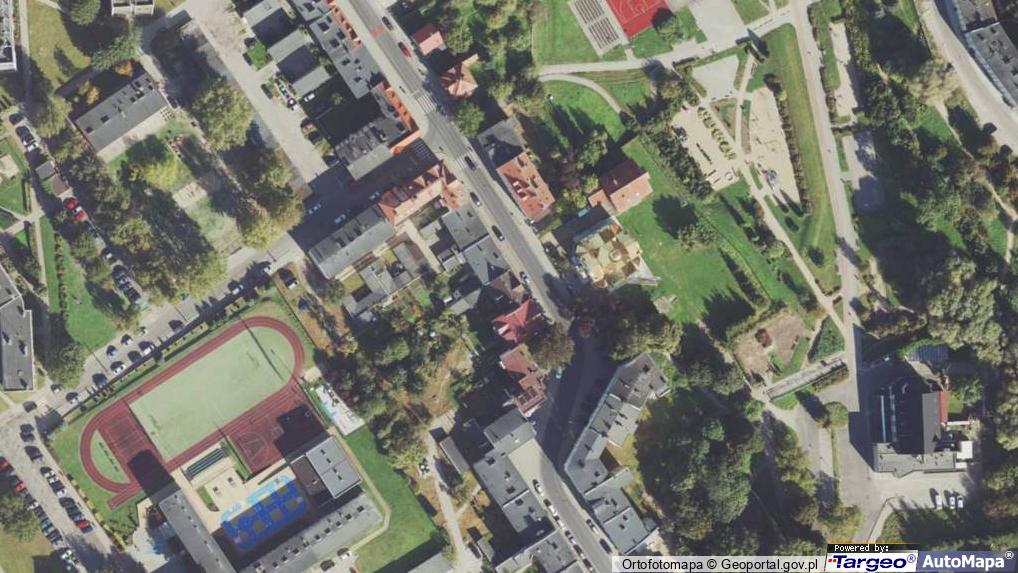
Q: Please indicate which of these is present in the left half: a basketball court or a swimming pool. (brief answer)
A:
basketball court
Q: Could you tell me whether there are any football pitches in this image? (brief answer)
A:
Yes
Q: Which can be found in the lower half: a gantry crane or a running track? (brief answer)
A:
running track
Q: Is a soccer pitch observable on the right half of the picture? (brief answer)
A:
No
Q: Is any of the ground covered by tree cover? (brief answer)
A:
Yes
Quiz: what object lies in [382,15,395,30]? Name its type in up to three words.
vehicle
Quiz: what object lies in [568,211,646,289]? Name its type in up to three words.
building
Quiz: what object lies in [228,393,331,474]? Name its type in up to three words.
basketball court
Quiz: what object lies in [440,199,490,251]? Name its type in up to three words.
house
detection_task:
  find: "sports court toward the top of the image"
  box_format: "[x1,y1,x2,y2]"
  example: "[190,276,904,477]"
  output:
[604,0,682,40]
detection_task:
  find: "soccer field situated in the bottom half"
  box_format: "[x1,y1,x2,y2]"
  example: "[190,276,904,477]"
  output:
[90,327,295,481]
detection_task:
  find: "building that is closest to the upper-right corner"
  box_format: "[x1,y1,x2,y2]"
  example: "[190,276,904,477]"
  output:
[947,0,999,34]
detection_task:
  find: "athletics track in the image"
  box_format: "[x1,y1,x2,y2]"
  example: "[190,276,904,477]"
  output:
[79,316,311,509]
